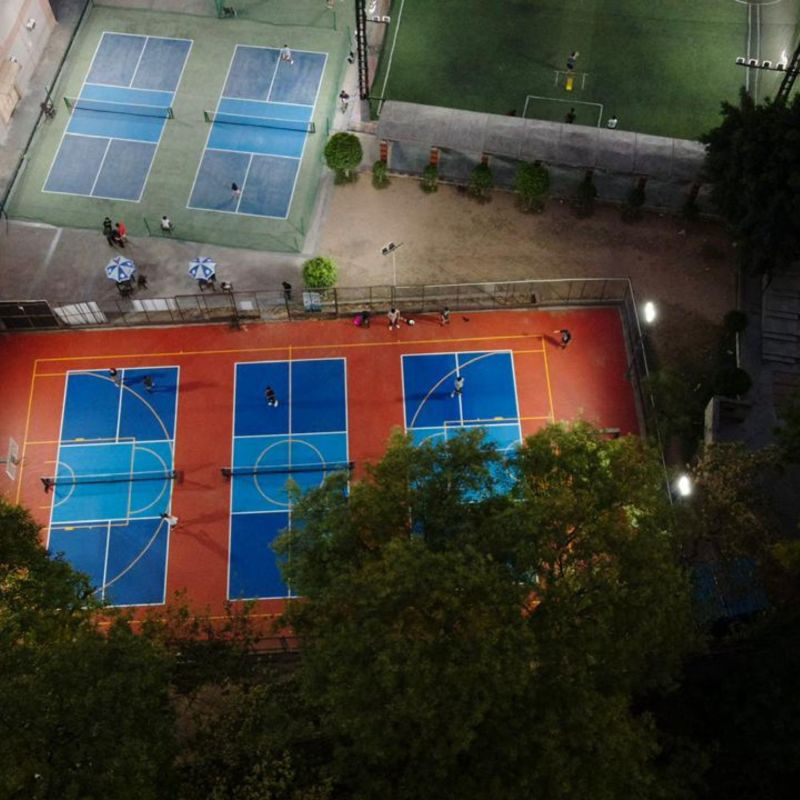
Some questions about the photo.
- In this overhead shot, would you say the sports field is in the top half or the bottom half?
top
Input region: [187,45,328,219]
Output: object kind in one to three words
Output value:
sports court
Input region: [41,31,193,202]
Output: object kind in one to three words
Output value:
sports court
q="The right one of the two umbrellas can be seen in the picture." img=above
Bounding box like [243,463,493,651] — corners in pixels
[191,258,217,282]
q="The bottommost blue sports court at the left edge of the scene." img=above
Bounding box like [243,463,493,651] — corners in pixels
[40,365,180,609]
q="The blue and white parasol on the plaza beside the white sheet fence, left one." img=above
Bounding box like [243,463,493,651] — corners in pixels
[108,259,137,283]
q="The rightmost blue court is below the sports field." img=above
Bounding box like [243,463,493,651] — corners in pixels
[401,349,527,583]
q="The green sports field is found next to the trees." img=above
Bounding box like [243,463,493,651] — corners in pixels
[370,0,800,149]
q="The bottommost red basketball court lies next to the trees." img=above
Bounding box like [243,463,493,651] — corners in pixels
[0,307,648,661]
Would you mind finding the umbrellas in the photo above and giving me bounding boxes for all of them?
[191,258,217,282]
[108,259,137,283]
